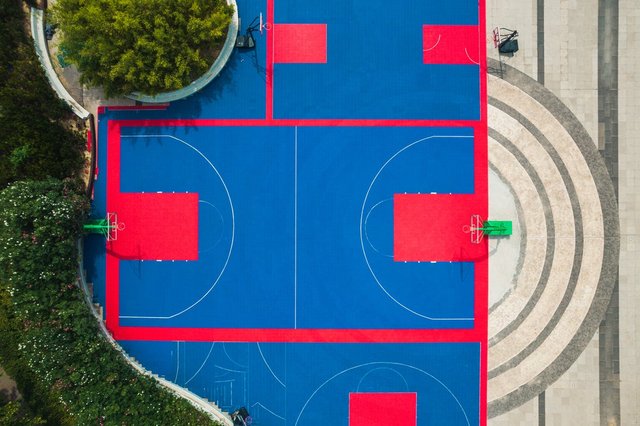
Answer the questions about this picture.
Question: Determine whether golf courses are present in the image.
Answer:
No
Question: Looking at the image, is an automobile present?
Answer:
No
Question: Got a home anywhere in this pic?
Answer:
No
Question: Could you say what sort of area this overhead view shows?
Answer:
sports ground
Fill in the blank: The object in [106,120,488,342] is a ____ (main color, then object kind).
blue basketball court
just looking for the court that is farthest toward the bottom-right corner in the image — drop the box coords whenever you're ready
[286,341,488,426]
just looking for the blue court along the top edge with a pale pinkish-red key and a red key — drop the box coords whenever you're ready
[267,0,488,120]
